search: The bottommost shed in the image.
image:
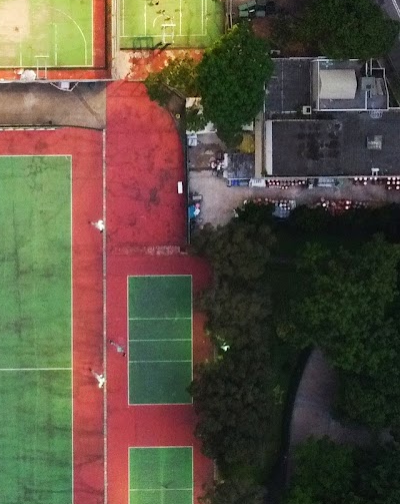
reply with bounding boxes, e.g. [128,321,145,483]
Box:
[220,153,251,180]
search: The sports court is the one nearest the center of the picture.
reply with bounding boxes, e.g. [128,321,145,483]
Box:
[128,274,193,405]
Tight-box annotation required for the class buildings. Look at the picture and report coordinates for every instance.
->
[220,153,251,180]
[256,57,400,178]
